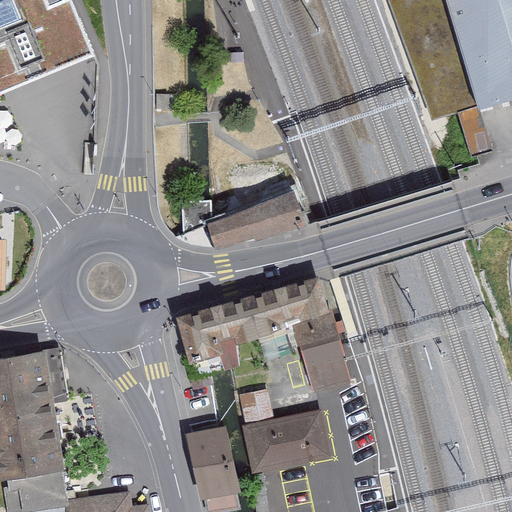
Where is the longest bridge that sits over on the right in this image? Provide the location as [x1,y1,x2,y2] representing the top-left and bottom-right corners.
[310,182,471,279]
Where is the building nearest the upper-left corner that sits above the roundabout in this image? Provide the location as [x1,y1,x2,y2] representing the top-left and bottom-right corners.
[0,0,92,92]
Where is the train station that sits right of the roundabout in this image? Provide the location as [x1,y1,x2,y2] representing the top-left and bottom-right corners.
[329,275,412,512]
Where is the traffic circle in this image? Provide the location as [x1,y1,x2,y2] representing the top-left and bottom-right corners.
[38,212,176,352]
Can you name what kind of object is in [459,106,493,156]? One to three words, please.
shed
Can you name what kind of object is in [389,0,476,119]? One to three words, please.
building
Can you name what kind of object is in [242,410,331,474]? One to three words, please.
house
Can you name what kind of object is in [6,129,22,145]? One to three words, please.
umbrella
